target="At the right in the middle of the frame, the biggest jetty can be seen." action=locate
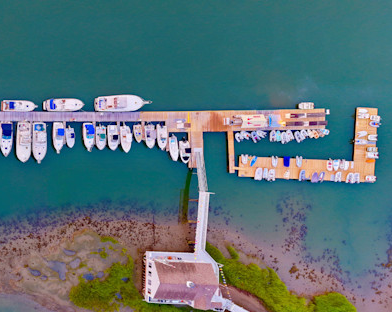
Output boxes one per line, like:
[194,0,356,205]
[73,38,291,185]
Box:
[238,108,378,183]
